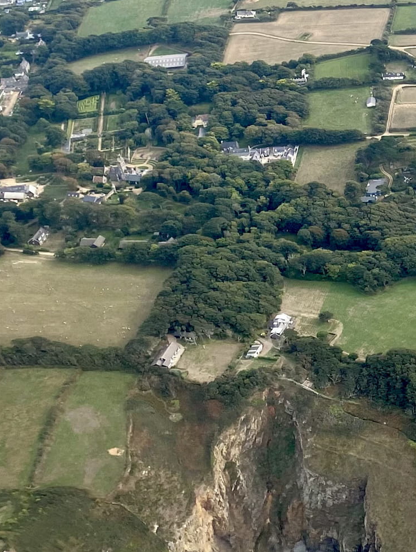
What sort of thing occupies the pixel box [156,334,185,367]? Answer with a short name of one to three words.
barn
